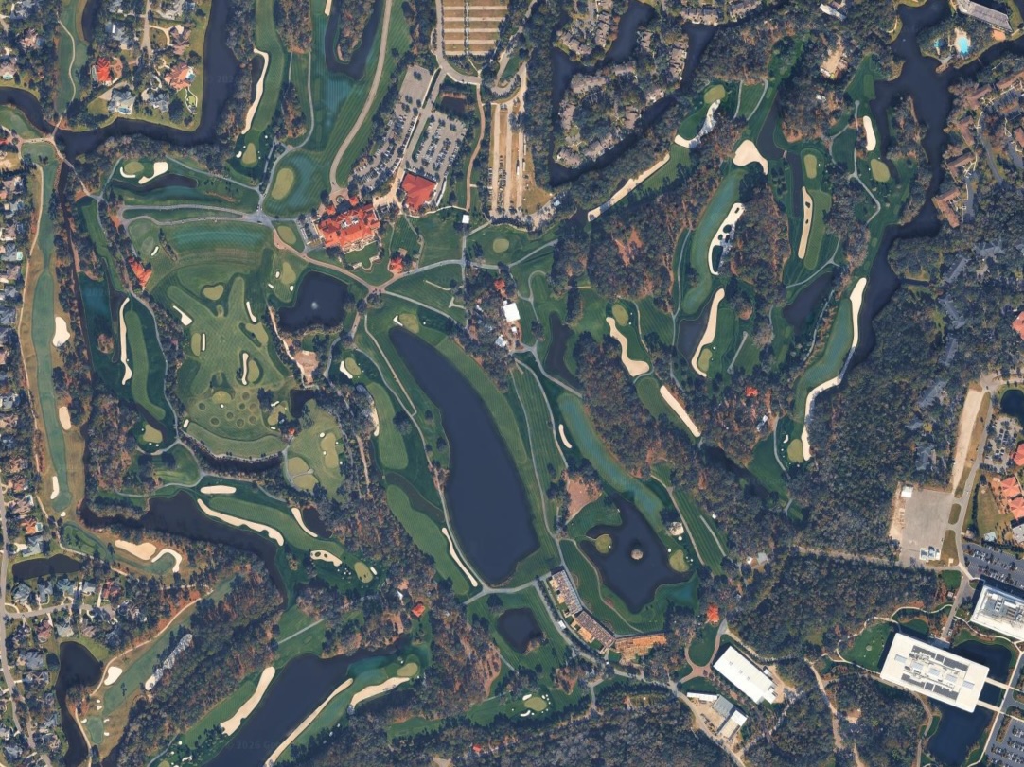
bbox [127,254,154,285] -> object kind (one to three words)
house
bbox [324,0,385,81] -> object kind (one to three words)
pond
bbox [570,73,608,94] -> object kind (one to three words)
building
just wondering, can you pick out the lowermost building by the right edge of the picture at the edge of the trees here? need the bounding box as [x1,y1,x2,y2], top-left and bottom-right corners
[882,634,991,713]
